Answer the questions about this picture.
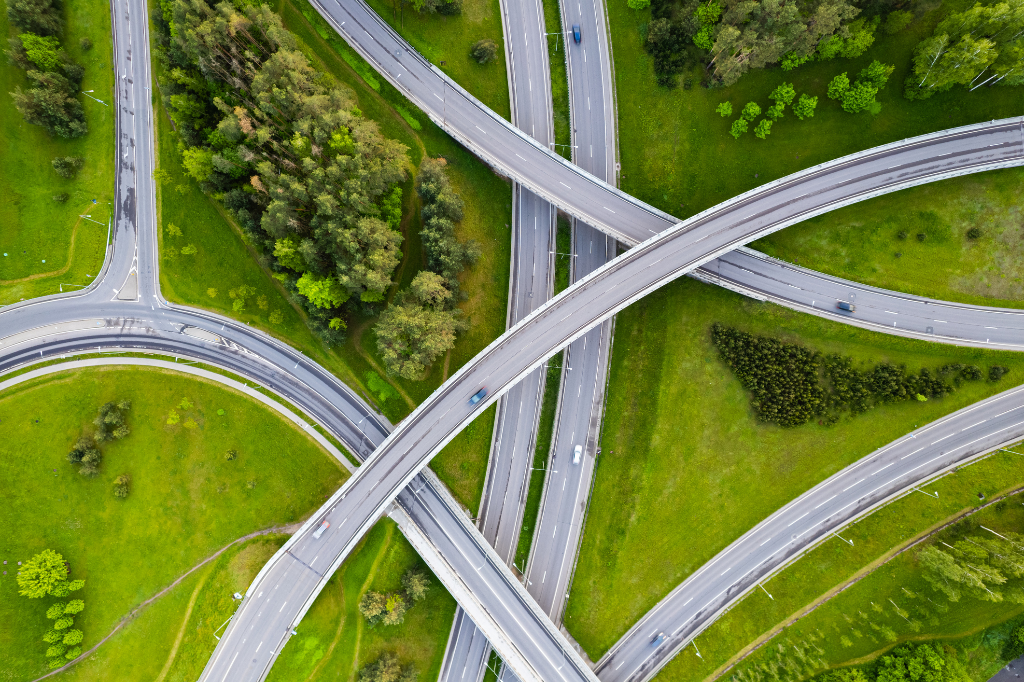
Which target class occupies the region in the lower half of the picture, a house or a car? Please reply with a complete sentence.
There is a car in the lower half of the picture.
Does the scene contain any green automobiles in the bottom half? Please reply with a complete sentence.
No, looking in the bottom half, there is no green automobile.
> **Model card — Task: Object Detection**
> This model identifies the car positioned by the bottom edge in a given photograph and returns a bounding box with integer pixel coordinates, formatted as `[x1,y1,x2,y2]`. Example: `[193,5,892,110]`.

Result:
[650,631,667,648]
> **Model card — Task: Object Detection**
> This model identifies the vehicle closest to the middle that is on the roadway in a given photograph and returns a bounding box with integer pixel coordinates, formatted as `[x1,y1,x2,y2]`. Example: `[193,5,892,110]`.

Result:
[468,387,487,404]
